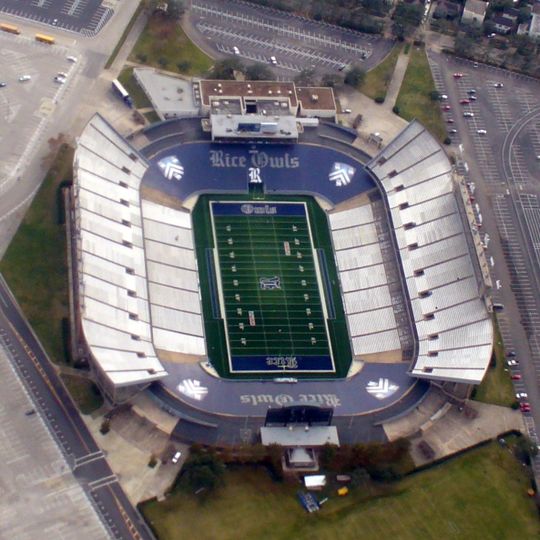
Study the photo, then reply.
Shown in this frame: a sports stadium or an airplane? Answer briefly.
sports stadium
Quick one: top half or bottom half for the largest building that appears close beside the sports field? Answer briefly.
top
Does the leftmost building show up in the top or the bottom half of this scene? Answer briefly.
top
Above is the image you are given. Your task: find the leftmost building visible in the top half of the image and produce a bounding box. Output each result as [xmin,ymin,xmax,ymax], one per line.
[133,67,198,119]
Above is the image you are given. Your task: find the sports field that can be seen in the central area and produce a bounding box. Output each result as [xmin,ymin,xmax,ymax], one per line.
[193,194,353,380]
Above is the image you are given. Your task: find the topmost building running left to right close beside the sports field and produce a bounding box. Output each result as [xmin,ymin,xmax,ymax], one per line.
[193,80,335,144]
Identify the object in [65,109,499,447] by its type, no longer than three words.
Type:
stadium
